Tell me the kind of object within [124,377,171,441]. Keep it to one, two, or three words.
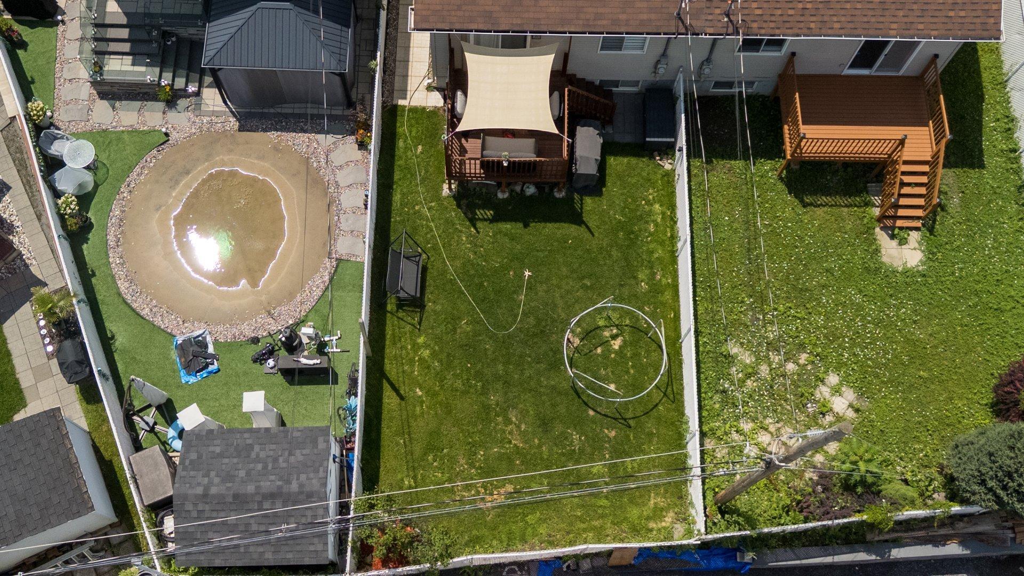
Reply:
umbrella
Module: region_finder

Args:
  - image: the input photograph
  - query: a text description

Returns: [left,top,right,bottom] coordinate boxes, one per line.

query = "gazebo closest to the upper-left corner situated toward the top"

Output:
[200,0,363,114]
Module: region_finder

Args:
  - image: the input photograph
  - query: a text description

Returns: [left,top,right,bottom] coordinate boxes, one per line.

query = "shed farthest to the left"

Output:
[0,407,117,569]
